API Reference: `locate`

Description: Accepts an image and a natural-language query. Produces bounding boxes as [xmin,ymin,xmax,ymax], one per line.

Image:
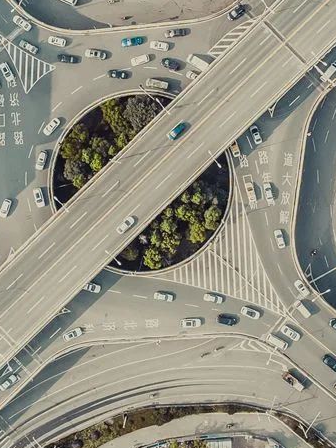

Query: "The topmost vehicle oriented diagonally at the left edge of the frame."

[12,16,30,31]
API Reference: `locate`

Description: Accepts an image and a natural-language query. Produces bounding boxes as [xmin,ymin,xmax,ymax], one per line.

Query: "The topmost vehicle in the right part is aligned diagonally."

[228,3,246,19]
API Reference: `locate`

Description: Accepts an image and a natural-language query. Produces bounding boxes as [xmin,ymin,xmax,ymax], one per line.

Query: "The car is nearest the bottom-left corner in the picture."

[1,373,20,390]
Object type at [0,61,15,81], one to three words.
car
